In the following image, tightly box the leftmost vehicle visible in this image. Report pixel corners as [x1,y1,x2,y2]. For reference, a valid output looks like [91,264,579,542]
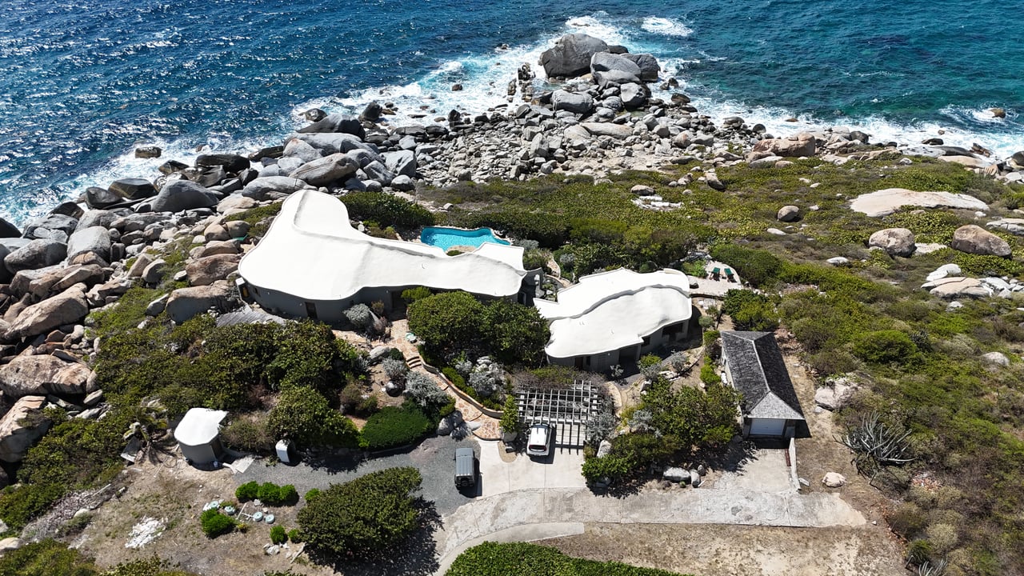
[452,446,478,487]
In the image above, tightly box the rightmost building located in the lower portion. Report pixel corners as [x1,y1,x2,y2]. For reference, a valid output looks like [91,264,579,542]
[722,331,805,434]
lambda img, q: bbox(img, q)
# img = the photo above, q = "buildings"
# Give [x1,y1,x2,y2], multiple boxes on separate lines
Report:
[534,260,692,380]
[239,191,525,326]
[722,331,805,434]
[175,408,230,466]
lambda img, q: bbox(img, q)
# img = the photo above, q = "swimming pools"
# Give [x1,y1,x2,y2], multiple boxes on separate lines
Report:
[417,224,514,256]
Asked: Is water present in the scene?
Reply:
Yes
